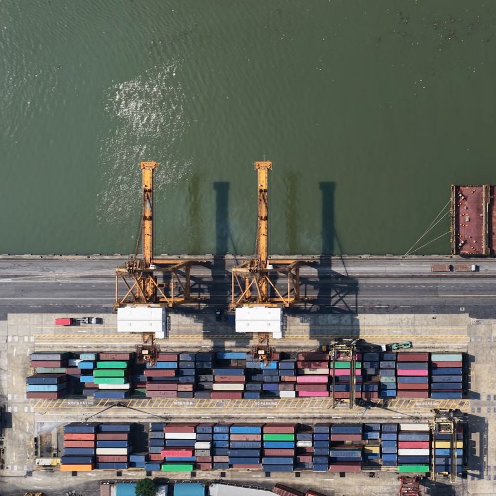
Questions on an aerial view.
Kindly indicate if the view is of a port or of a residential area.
port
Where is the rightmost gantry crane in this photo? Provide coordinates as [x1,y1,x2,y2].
[427,404,461,482]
